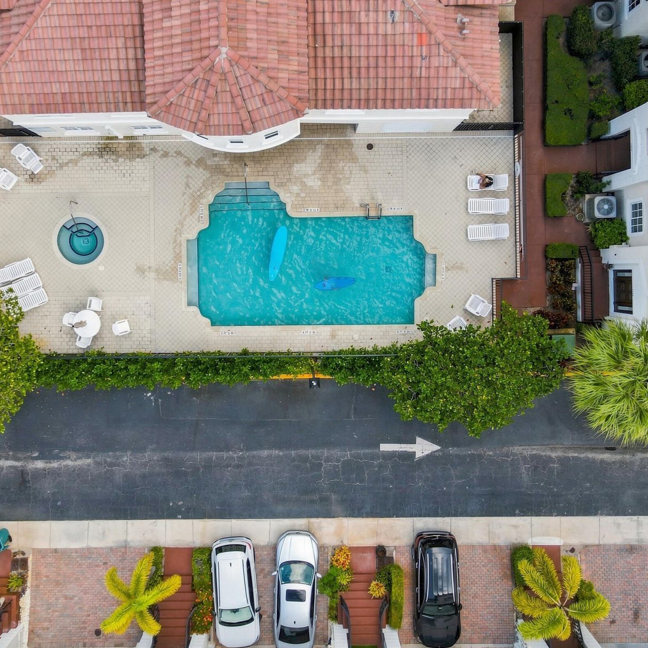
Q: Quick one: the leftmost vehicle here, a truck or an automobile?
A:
automobile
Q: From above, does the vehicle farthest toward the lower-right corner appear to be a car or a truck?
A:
car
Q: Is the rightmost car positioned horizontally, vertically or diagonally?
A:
vertically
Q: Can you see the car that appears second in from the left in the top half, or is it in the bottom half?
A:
bottom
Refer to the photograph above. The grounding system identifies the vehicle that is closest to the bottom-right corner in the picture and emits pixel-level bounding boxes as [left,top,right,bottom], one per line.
[410,531,465,644]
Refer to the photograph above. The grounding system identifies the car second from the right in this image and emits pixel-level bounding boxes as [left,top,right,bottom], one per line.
[270,531,323,648]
